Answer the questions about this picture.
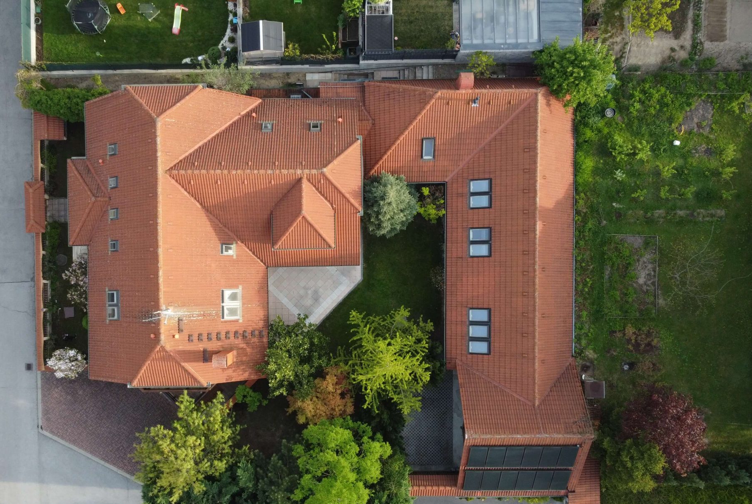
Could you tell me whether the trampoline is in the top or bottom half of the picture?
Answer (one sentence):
Seen from above, the trampoline lies in the top half of the view.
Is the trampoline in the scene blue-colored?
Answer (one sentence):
No, from above the trampoline looks black.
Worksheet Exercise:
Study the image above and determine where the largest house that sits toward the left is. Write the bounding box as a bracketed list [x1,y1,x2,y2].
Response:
[66,83,365,401]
